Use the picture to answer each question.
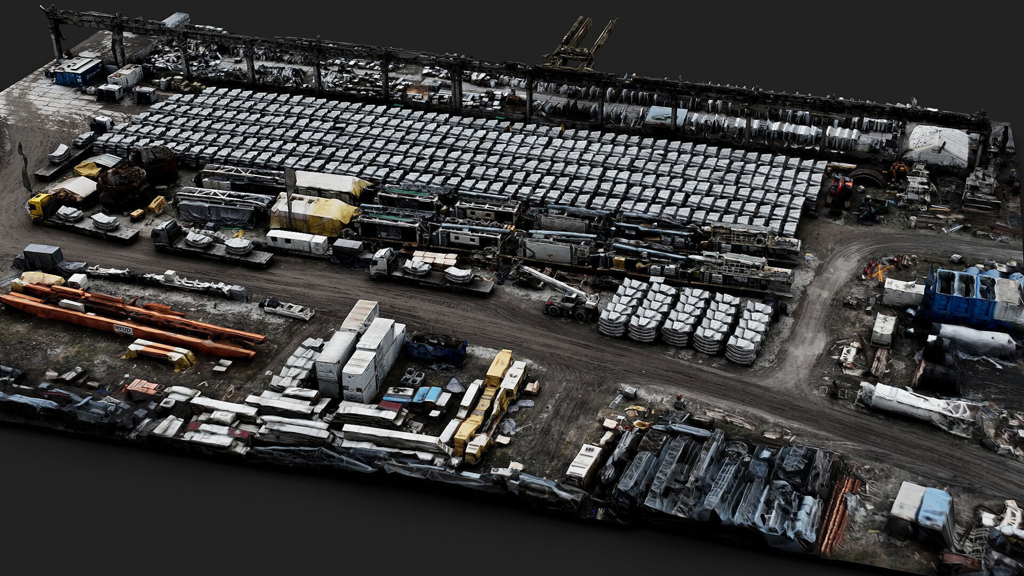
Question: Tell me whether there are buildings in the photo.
Yes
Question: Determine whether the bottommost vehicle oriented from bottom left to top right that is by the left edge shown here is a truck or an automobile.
truck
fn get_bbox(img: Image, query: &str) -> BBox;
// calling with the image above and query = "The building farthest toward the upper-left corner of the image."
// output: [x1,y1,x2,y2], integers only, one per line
[98,81,128,104]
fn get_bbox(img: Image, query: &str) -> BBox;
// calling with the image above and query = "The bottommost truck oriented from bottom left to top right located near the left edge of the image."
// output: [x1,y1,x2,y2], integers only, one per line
[31,117,105,175]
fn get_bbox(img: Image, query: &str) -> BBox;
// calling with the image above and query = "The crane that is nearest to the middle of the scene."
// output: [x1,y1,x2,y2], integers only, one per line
[520,263,603,322]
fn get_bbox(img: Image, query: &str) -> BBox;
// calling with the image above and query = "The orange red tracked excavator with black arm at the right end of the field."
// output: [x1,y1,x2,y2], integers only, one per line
[828,181,857,221]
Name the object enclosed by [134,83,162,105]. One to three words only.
building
